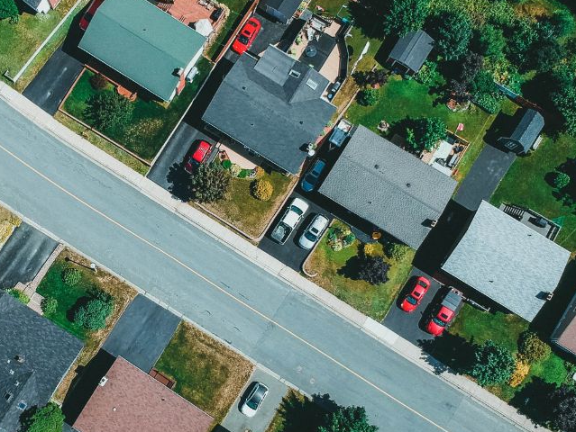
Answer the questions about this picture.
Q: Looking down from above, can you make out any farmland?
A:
No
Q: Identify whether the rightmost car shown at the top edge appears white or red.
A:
red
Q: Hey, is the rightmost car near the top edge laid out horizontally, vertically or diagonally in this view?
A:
diagonally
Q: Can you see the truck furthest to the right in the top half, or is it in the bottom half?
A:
bottom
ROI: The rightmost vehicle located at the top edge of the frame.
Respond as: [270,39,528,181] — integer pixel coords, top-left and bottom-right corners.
[232,18,262,54]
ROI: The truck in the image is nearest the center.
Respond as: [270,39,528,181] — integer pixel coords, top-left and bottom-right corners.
[273,197,308,245]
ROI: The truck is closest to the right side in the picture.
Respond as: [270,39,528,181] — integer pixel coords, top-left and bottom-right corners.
[426,285,466,336]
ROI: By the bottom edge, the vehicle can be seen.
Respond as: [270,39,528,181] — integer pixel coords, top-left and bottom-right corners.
[241,380,268,419]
